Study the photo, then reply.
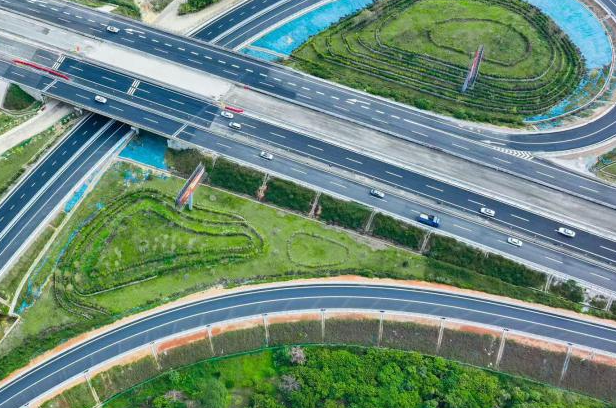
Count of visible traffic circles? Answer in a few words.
0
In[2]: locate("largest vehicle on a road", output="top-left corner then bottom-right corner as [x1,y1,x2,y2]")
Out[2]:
[418,212,441,227]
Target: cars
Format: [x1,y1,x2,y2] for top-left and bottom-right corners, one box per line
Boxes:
[228,121,242,129]
[558,227,574,237]
[479,207,495,217]
[259,151,273,159]
[371,189,384,198]
[106,26,118,33]
[506,237,522,246]
[93,95,107,103]
[220,111,234,119]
